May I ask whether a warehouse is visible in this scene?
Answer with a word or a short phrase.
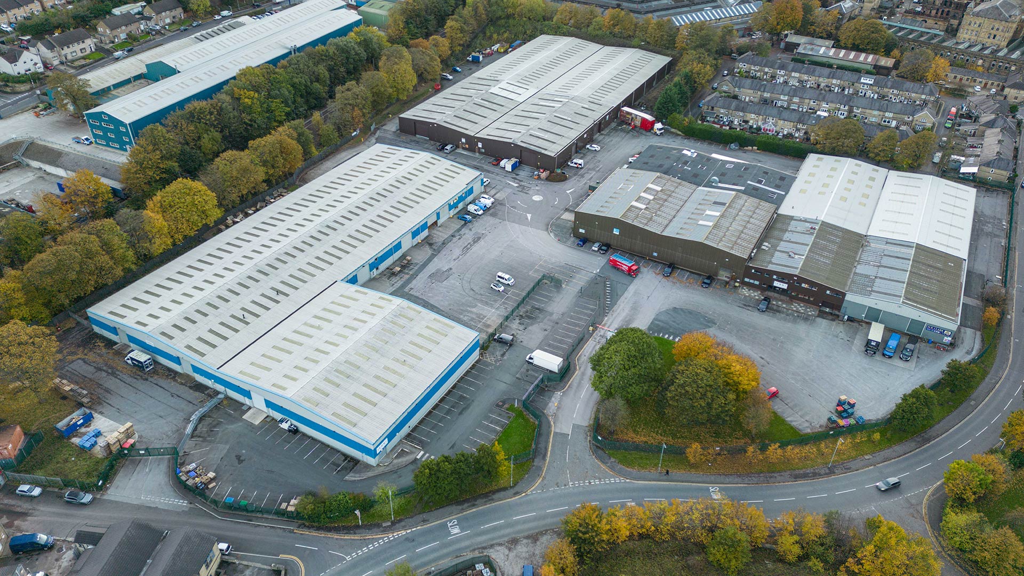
Yes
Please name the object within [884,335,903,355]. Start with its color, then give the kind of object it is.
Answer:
blue vehicle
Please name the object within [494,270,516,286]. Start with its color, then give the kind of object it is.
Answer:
white vehicle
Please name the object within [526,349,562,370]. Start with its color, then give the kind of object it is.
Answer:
white vehicle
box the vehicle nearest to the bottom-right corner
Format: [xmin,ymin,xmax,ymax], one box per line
[876,477,902,492]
